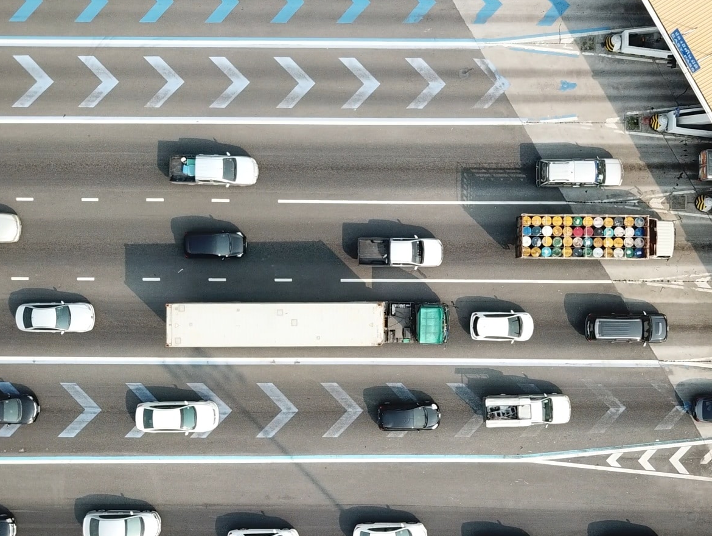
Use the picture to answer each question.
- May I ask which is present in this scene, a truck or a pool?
truck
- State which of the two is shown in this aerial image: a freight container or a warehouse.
freight container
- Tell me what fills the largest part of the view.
paved ground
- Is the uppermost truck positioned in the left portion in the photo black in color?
No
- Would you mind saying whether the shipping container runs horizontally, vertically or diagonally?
horizontally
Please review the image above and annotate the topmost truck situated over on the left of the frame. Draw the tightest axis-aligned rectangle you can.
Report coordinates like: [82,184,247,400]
[168,152,260,188]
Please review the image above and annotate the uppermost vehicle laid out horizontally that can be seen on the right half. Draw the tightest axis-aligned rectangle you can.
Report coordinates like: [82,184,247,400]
[536,153,623,188]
